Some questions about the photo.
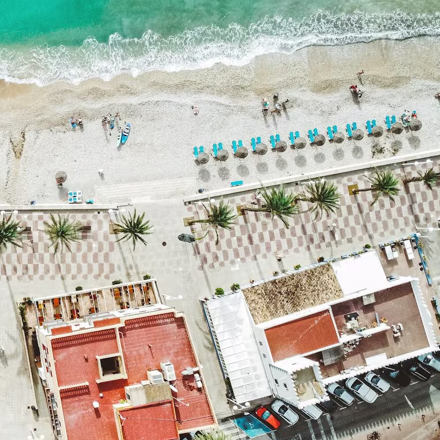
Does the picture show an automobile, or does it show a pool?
automobile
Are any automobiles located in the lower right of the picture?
Yes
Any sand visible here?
Yes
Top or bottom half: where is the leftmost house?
bottom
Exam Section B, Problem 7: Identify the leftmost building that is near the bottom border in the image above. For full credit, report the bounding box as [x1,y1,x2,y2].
[36,300,216,440]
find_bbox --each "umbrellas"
[313,133,325,146]
[54,170,67,183]
[273,140,286,153]
[390,121,403,134]
[255,142,268,155]
[350,128,363,141]
[406,118,420,131]
[294,137,306,150]
[216,148,229,161]
[332,131,345,144]
[235,146,248,158]
[370,125,383,138]
[196,152,209,165]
